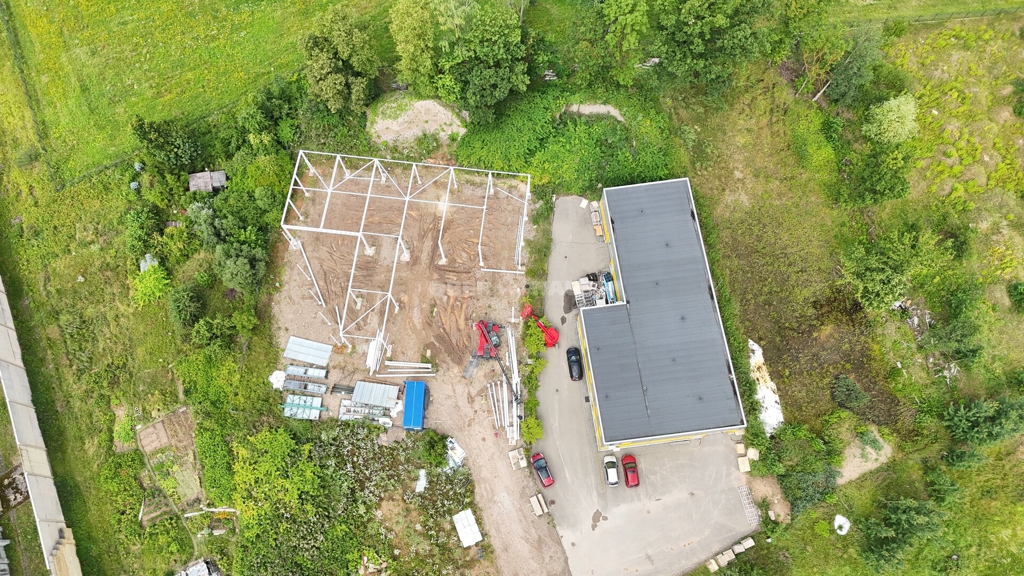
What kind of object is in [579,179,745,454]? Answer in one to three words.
building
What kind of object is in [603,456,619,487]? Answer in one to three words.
car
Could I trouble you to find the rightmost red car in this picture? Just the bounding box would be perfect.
[621,454,639,489]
